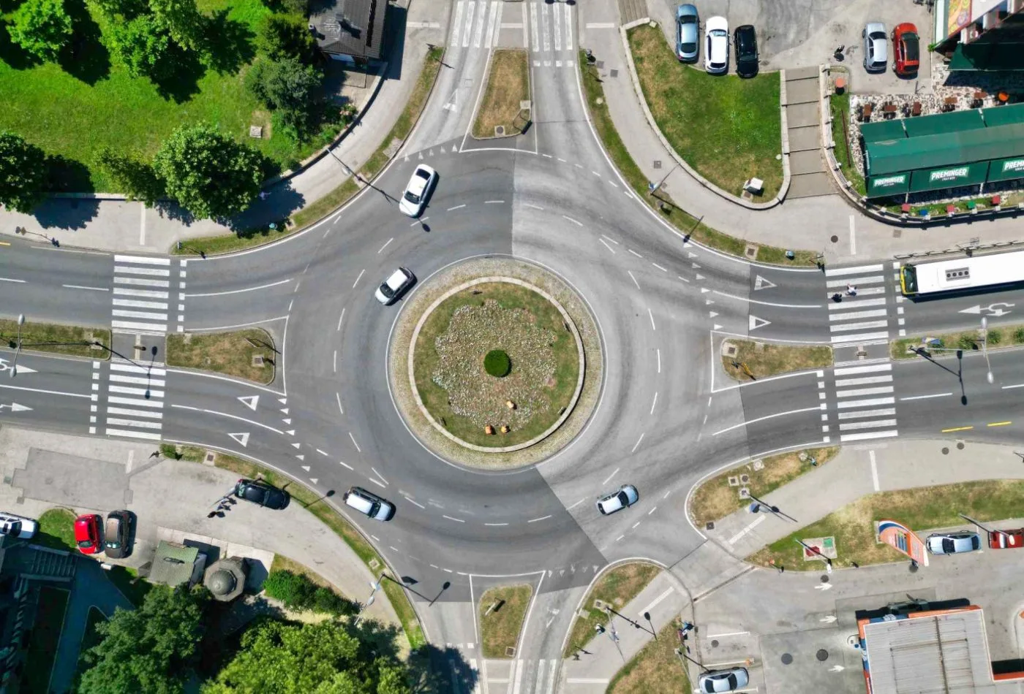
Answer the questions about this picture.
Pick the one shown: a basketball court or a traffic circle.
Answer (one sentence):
Visible in the photo is a traffic circle.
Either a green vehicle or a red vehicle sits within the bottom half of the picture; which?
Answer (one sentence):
The feature located within the bottom half of the picture is a red vehicle.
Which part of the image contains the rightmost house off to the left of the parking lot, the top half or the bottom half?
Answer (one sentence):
Seen from above, the rightmost house off to the left of the parking lot lies in the top half of the view.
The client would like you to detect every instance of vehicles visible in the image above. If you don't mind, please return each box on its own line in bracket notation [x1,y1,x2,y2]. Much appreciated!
[832,43,848,63]
[674,5,701,62]
[696,664,749,694]
[374,266,417,305]
[890,24,921,76]
[0,511,41,541]
[103,509,133,558]
[901,251,1024,297]
[75,512,103,555]
[343,486,396,522]
[234,477,292,512]
[703,17,732,75]
[400,162,436,218]
[595,484,640,516]
[923,530,980,557]
[733,24,762,79]
[860,23,889,73]
[881,593,934,617]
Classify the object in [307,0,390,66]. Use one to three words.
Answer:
house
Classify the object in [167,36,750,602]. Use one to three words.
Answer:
roundabout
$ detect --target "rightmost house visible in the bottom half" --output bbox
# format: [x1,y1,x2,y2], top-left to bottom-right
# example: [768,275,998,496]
[205,547,259,600]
